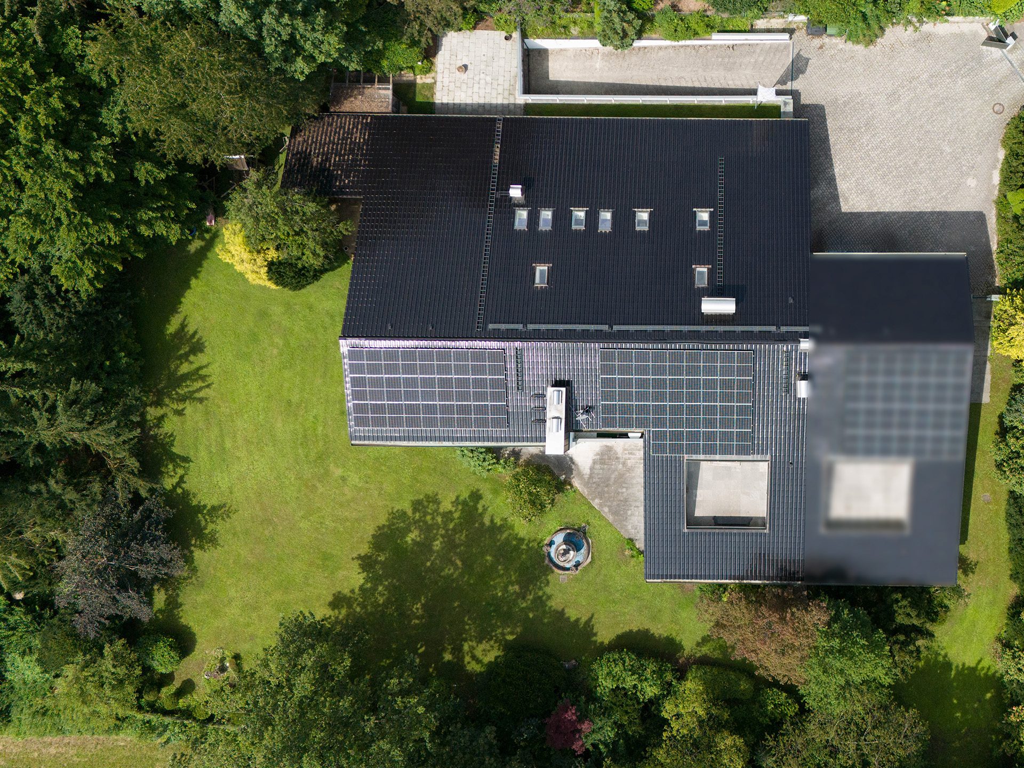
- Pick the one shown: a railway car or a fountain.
fountain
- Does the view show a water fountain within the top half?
No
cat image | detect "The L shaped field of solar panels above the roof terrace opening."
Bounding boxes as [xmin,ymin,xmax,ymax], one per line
[600,351,754,456]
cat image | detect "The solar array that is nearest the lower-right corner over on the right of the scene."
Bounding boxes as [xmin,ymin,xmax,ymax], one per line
[840,353,968,459]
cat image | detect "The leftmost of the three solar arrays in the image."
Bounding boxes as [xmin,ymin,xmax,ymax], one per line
[348,349,509,430]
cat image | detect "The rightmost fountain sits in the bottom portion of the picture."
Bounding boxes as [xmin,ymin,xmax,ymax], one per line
[543,524,591,573]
